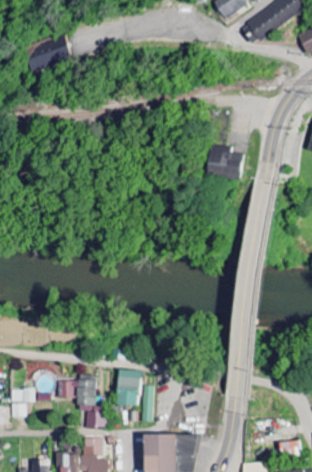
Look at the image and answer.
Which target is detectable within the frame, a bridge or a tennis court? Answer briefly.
bridge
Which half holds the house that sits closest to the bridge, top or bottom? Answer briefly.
top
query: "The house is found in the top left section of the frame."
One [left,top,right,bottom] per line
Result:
[28,36,73,70]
